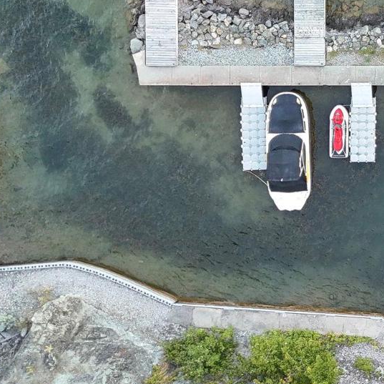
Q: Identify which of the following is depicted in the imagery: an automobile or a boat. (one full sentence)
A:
Visible in the photo is a boat.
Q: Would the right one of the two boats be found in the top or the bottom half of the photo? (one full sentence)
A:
It is in the top half that the right one of the two boats appears.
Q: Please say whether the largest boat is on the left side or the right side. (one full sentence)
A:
The largest boat appears in the right half of the scene.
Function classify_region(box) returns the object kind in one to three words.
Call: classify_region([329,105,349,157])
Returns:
boat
